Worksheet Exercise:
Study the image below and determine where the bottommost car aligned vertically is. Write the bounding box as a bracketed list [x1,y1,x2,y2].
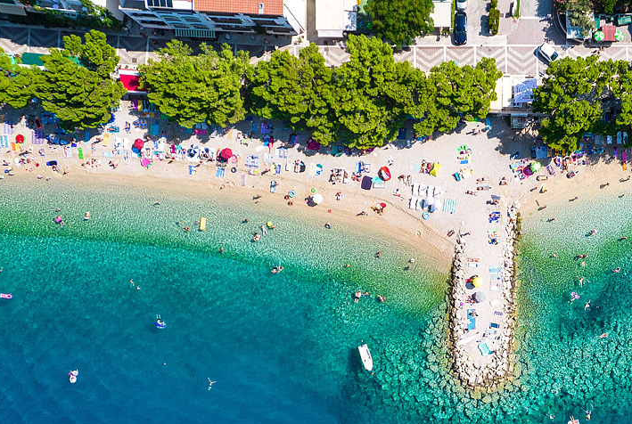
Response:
[451,8,468,44]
